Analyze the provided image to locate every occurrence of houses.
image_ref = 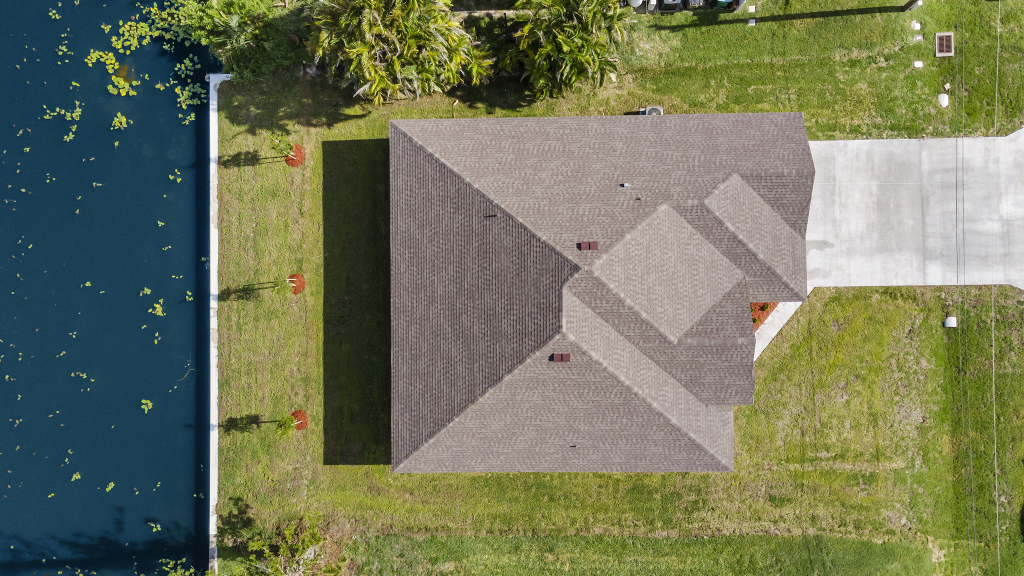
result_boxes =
[388,112,815,475]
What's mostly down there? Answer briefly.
grass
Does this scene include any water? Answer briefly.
Yes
